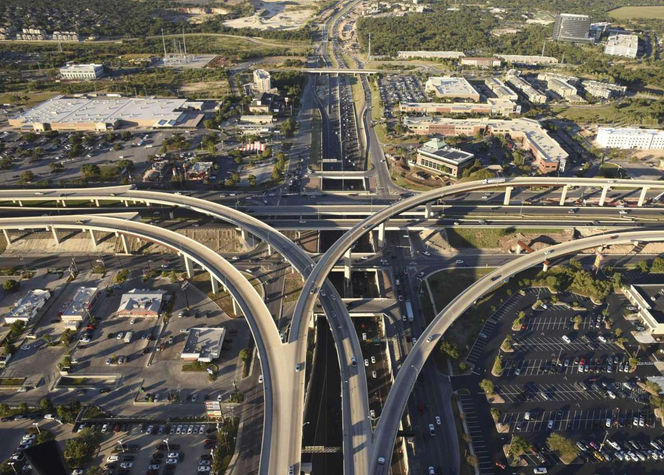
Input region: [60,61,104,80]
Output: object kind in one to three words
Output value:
building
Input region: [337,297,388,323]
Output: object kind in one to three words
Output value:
bridge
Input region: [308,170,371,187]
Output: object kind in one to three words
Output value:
bridge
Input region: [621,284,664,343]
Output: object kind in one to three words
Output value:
building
